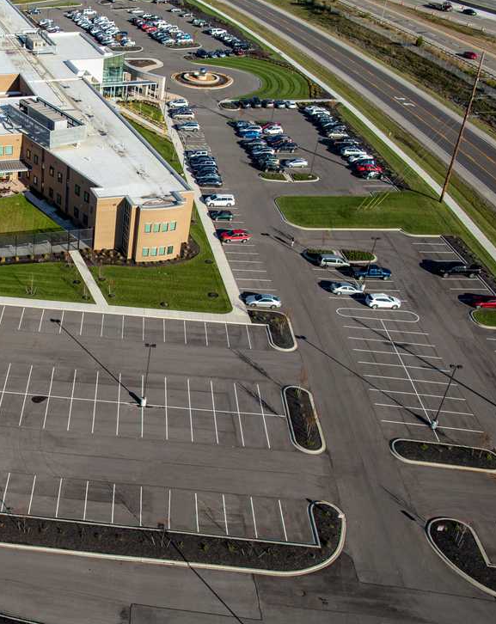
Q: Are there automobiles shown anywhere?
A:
Yes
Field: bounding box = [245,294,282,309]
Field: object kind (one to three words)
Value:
car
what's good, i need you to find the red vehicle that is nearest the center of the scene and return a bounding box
[219,228,251,243]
